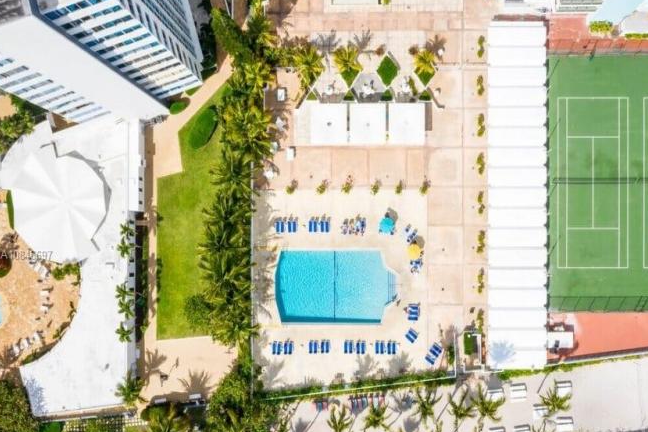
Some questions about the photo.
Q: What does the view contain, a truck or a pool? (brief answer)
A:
pool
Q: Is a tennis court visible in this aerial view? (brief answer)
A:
Yes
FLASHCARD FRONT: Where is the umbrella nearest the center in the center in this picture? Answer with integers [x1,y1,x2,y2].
[379,216,394,234]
